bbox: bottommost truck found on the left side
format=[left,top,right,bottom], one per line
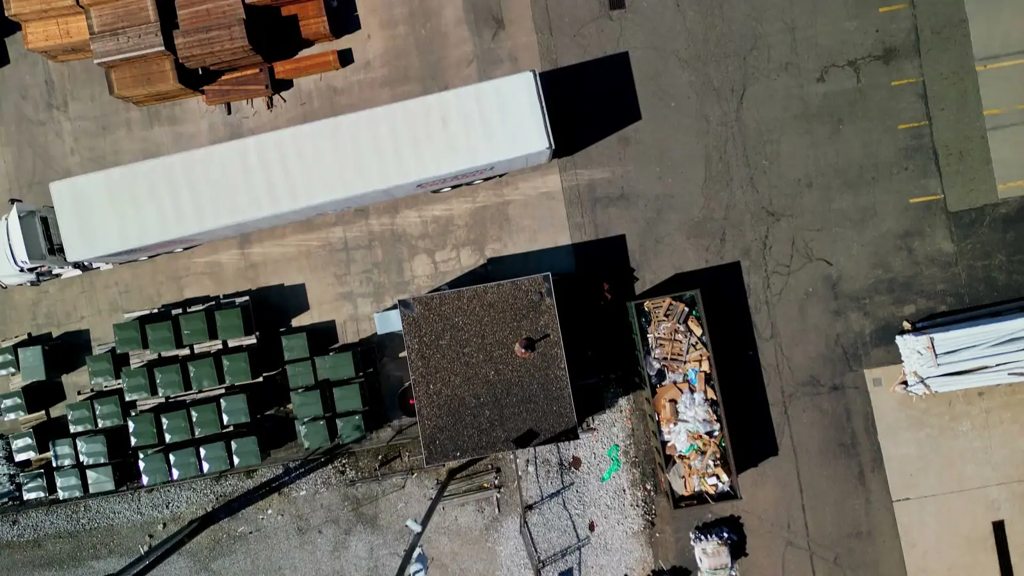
[0,196,192,291]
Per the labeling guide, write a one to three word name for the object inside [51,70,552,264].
trailer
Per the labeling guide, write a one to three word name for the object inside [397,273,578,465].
building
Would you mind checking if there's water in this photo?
No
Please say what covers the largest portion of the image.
paved ground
